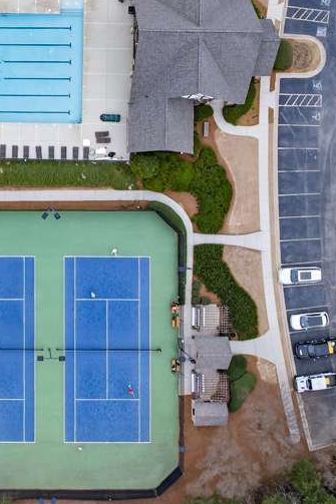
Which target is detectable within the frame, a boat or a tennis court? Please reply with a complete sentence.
There is a tennis court in the scene.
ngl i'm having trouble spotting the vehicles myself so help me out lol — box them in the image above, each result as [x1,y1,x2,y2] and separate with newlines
[293,372,336,393]
[289,312,329,331]
[279,267,322,286]
[295,338,336,360]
